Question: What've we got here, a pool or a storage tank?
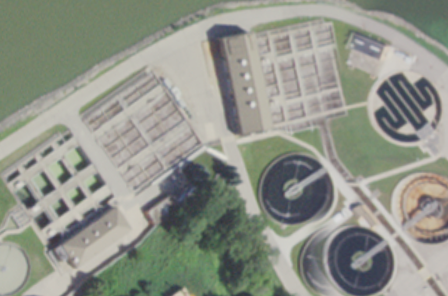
storage tank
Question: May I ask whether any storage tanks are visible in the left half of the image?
Yes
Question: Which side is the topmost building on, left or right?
right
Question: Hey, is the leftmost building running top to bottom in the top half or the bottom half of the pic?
top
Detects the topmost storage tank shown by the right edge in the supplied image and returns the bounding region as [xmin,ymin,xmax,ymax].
[368,67,446,148]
